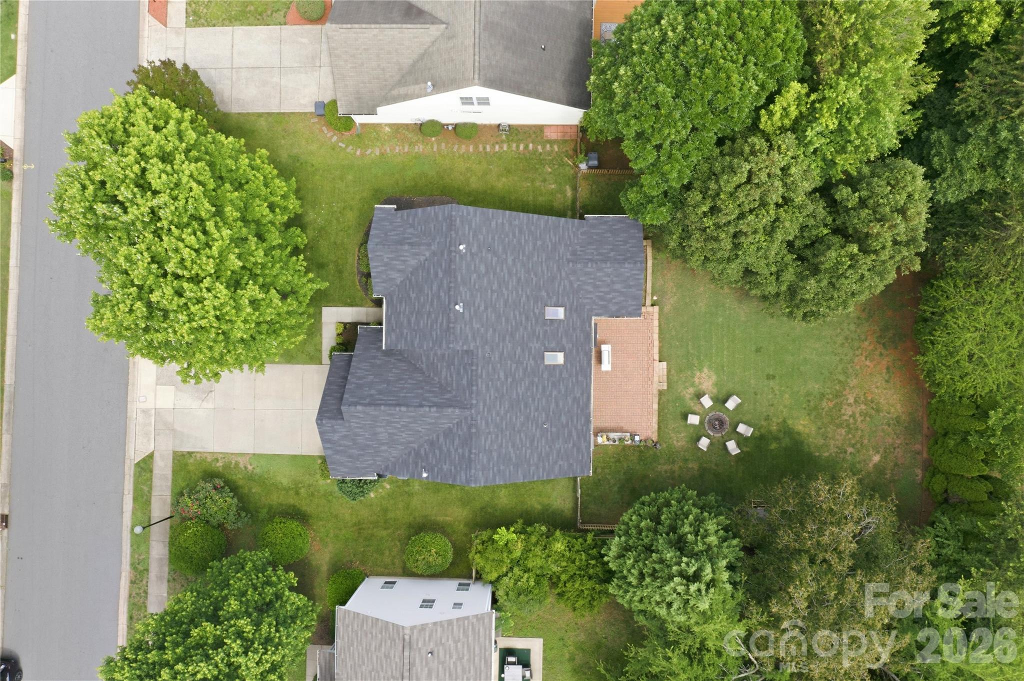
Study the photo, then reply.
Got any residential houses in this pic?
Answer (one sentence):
Yes, looking at the shot, I can spot a residential house.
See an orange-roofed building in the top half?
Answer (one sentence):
No, in the top half there is no orange-roofed building.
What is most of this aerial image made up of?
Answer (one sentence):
The scene is dominated by trees.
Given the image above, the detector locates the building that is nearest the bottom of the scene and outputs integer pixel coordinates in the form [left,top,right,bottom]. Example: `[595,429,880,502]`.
[315,579,496,681]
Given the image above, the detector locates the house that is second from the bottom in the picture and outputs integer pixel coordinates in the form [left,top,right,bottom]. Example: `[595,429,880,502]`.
[318,204,645,485]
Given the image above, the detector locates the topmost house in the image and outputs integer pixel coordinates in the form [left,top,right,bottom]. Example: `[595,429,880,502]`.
[328,0,593,142]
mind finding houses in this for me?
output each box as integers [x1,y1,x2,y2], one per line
[315,579,496,681]
[318,204,645,485]
[328,0,593,142]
